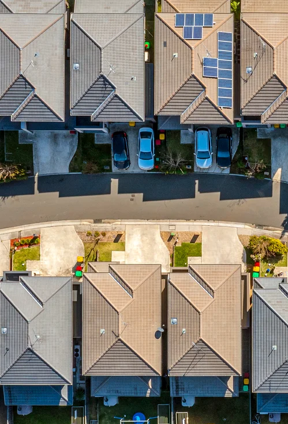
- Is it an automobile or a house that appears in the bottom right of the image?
house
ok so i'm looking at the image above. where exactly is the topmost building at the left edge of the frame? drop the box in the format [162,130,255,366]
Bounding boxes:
[0,0,69,136]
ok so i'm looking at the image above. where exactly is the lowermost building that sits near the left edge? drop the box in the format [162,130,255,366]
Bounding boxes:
[0,268,81,406]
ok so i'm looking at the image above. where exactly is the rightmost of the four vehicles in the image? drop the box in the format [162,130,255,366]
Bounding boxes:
[215,127,233,168]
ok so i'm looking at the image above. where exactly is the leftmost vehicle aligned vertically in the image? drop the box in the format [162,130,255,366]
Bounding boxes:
[112,133,130,170]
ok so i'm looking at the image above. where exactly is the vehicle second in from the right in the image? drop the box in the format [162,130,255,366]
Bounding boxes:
[194,127,213,168]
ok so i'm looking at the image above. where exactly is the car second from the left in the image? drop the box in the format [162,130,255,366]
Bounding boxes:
[137,128,154,168]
